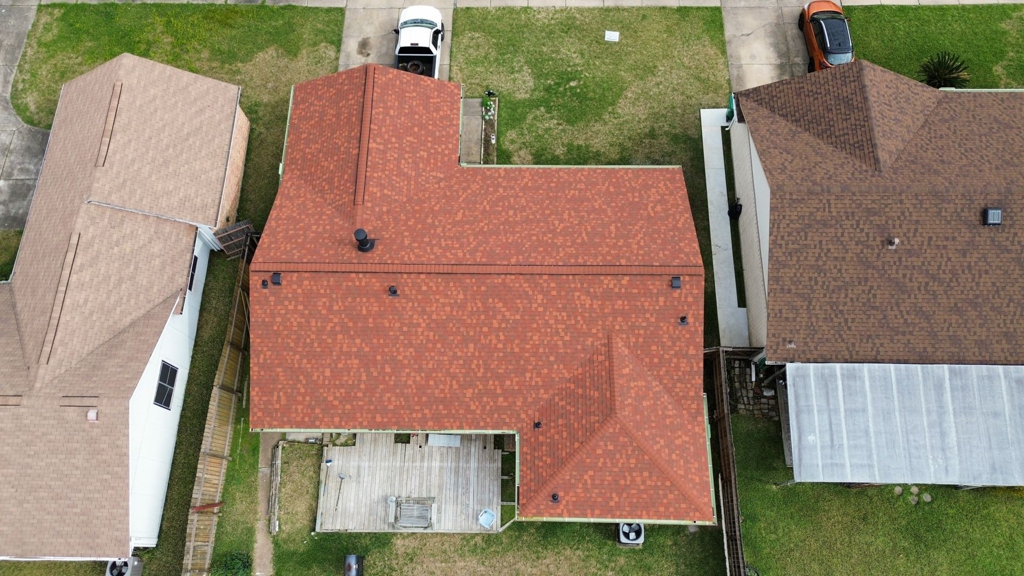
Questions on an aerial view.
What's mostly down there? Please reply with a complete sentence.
Most of the picture is covered by buildings.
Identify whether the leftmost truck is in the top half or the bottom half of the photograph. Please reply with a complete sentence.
You can find the leftmost truck in the top half.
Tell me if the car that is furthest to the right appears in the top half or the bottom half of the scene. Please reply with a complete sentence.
The top half of the photo is where the car that is furthest to the right is.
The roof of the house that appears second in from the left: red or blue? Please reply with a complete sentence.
The roof of the house that appears second in from the left looks red in the image.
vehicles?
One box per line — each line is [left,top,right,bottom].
[798,1,858,73]
[392,3,448,80]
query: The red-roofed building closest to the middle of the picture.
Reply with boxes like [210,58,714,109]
[249,64,716,524]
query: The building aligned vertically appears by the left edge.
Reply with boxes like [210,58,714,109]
[0,56,249,561]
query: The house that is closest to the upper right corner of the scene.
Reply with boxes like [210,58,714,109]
[723,61,1024,370]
